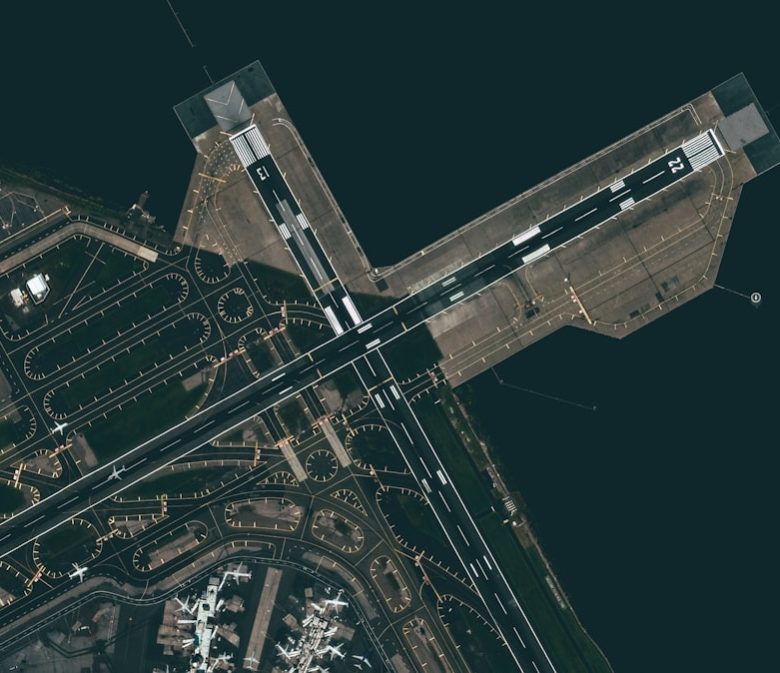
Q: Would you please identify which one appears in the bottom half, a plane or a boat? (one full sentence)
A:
It is a plane that can be seen in the bottom half.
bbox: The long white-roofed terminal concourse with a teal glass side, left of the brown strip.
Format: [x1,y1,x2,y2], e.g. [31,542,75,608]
[176,573,227,673]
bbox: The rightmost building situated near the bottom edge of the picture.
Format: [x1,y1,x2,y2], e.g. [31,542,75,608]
[287,601,338,673]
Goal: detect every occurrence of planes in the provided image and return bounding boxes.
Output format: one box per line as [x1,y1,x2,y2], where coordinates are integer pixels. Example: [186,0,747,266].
[326,592,349,614]
[329,646,346,662]
[108,465,126,480]
[218,650,233,663]
[68,564,88,583]
[243,652,260,671]
[355,649,374,670]
[51,420,68,434]
[274,643,289,658]
[173,595,191,614]
[226,563,251,585]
